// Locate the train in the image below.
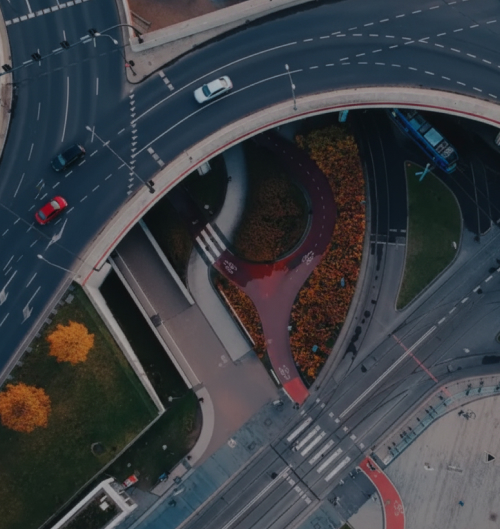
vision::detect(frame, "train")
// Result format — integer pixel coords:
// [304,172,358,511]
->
[392,110,462,171]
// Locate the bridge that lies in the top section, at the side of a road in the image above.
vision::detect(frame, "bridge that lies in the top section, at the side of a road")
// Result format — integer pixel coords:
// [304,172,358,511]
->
[0,0,500,389]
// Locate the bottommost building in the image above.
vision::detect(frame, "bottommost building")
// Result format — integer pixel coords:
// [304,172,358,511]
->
[52,476,138,529]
